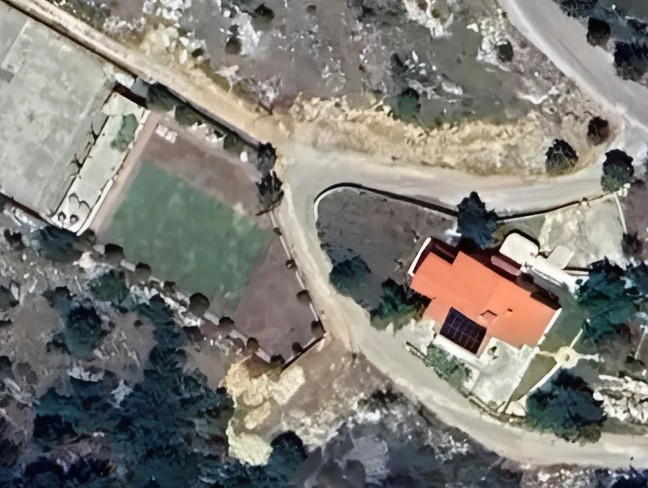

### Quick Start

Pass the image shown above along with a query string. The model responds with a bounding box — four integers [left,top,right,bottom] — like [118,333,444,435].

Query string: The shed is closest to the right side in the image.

[548,245,574,268]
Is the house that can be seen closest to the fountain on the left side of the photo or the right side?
right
